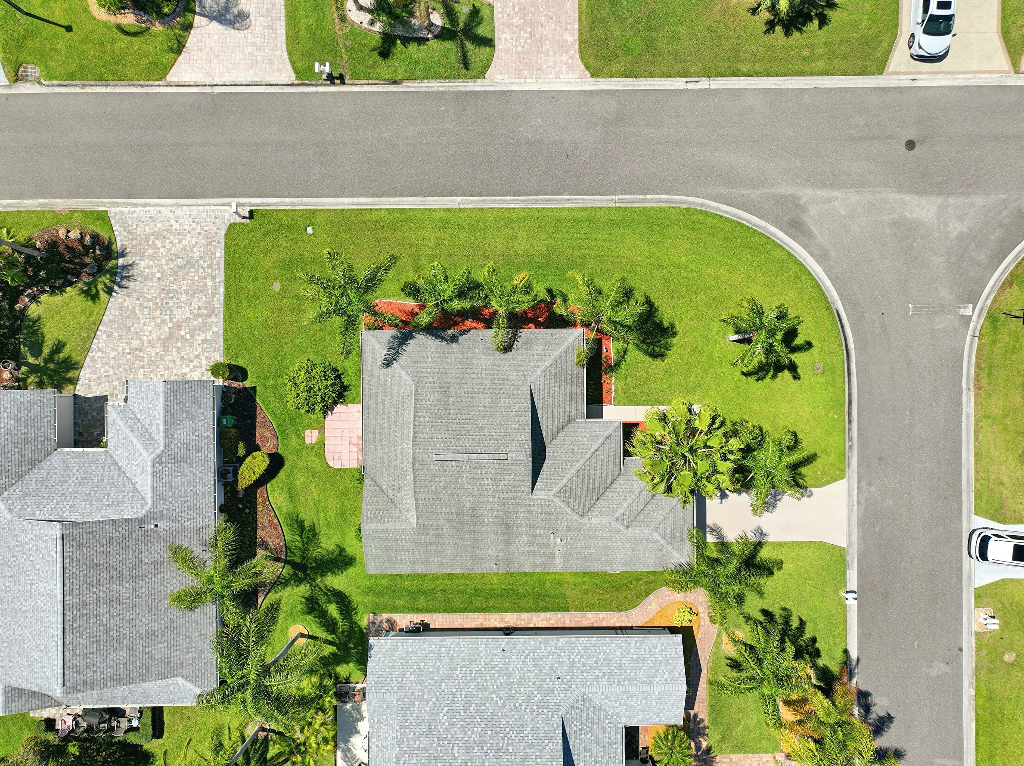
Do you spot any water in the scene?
No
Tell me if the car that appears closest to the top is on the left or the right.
right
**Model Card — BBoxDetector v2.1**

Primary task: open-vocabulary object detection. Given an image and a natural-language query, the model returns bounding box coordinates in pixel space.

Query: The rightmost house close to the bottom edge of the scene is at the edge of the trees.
[365,631,686,766]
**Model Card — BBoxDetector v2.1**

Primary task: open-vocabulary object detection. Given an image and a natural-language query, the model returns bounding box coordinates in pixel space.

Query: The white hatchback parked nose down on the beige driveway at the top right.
[915,0,963,62]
